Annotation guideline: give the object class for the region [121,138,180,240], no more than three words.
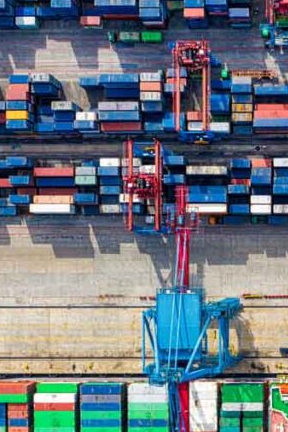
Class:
crane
